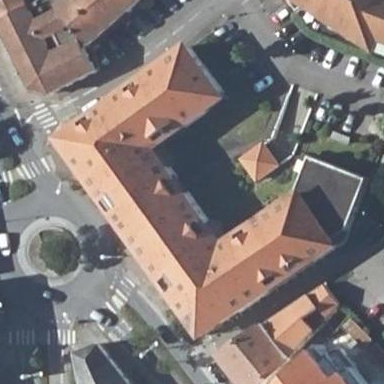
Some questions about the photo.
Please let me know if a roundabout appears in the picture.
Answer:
Yes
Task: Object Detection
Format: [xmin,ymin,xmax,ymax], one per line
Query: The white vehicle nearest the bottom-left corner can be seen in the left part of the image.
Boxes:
[92,311,112,326]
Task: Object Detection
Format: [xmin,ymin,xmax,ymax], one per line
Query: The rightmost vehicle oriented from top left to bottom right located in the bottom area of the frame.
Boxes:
[158,324,178,344]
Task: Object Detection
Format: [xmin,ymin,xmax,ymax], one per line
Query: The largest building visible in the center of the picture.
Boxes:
[48,41,337,341]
